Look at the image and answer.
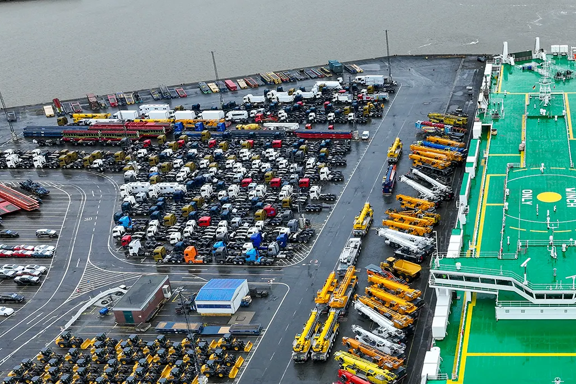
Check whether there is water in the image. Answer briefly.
Yes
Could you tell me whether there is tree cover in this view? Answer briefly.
No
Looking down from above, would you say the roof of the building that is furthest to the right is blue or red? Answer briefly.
blue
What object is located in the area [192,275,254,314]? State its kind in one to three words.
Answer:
building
